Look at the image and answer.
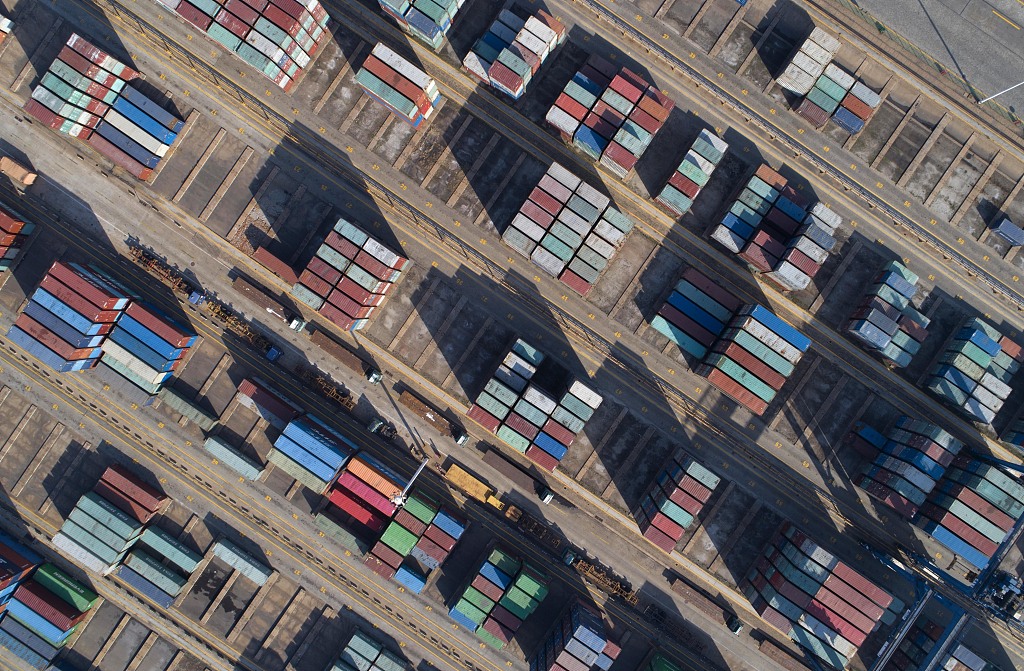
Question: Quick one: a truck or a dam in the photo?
truck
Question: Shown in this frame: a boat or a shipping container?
shipping container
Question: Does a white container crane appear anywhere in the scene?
No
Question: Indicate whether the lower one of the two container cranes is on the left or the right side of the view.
right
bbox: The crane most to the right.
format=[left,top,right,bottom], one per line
[887,440,1024,621]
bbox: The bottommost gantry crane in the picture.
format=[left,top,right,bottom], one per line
[789,536,972,671]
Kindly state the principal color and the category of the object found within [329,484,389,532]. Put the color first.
red shipping container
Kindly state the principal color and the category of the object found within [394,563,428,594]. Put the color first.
blue shipping container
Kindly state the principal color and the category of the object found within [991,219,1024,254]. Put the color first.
blue shipping container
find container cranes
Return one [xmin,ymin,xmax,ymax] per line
[789,536,972,671]
[887,440,1024,621]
